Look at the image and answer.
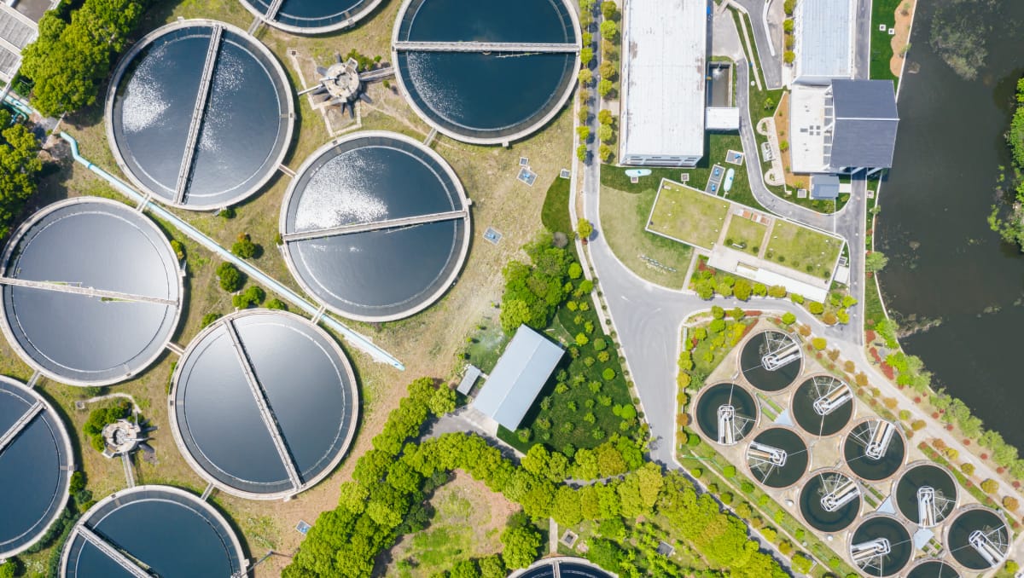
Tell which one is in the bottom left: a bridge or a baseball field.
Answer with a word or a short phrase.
bridge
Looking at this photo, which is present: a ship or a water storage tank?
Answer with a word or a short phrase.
water storage tank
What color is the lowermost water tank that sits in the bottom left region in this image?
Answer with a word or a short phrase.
blue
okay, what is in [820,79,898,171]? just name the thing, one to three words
building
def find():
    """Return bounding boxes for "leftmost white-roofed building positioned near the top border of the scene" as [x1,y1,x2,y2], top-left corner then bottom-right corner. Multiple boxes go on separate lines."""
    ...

[620,0,707,163]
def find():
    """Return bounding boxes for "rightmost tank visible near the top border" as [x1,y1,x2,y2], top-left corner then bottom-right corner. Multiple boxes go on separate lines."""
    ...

[392,0,582,149]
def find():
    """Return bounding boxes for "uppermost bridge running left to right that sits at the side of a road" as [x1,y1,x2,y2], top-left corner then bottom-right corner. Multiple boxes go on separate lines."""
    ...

[392,43,581,55]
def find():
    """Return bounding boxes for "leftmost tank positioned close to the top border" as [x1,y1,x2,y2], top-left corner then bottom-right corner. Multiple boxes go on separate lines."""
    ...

[105,16,298,213]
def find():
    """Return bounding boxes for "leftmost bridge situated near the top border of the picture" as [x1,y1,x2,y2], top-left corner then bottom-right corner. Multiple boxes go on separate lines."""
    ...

[175,20,225,208]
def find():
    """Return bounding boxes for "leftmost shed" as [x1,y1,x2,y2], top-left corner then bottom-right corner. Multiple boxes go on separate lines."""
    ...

[458,365,481,395]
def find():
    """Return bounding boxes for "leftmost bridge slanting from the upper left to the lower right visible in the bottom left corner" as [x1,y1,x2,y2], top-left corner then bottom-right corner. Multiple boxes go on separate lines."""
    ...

[73,522,158,578]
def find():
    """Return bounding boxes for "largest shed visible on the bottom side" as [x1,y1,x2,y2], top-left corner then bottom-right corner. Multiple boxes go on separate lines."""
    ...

[473,324,566,431]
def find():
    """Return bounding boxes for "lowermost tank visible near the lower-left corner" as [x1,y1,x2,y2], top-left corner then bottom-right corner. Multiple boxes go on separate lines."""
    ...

[59,483,257,578]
